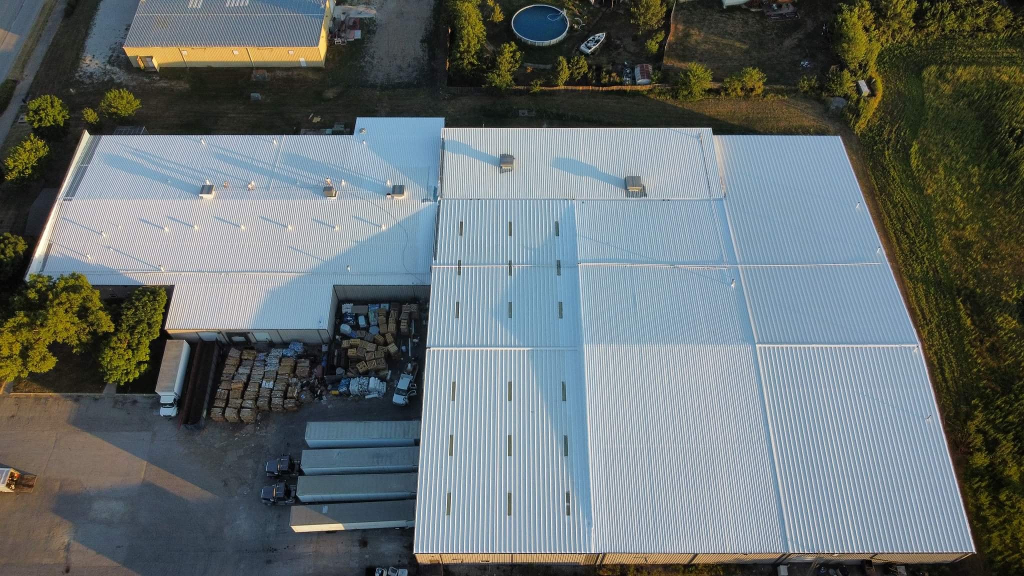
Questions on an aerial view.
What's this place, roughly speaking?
industrial area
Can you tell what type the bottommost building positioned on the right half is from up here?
warehouse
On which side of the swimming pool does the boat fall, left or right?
on its right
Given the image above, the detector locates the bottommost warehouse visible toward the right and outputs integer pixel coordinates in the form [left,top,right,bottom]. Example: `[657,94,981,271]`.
[413,127,980,567]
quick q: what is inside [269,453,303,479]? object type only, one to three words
truck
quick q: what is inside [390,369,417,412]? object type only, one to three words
truck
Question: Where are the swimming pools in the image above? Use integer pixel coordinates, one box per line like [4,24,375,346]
[512,5,569,47]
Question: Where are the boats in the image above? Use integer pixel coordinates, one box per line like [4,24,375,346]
[580,31,606,53]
